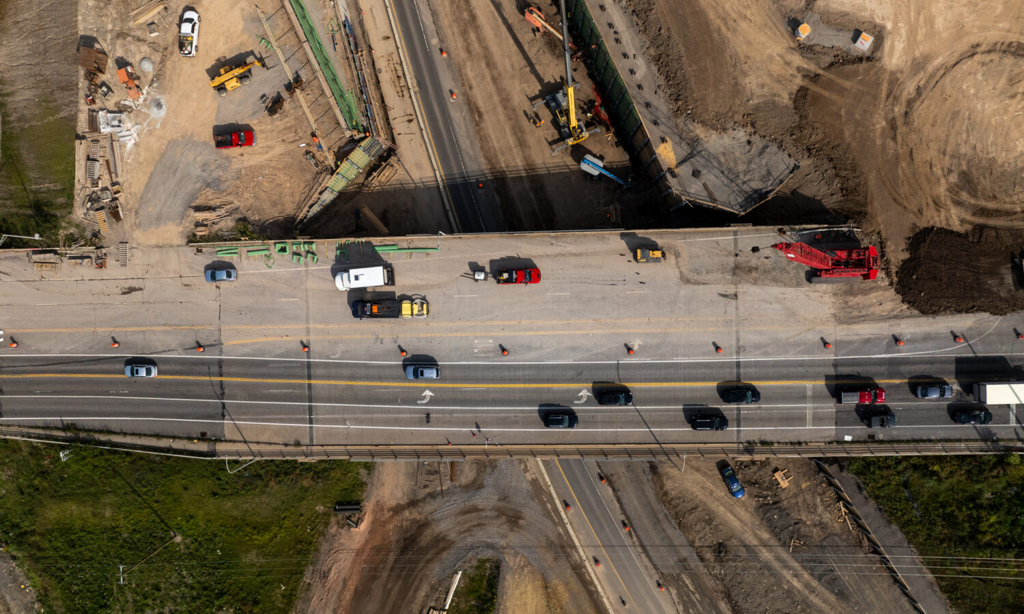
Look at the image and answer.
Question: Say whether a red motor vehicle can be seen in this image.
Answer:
Yes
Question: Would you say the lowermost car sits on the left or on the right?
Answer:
right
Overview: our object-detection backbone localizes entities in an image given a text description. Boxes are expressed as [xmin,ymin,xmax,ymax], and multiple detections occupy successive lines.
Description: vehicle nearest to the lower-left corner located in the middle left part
[126,363,160,379]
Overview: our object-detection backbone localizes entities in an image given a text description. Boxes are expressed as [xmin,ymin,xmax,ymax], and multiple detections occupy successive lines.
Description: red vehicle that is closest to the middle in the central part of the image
[497,268,542,286]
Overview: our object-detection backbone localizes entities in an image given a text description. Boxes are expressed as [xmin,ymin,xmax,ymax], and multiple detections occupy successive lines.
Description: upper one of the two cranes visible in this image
[529,0,603,155]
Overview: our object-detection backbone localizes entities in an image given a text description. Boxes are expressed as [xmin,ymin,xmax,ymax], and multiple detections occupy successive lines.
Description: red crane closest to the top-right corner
[726,241,883,283]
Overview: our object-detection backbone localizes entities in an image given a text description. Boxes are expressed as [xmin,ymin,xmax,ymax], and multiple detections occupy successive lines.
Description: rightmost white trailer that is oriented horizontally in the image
[968,382,1024,403]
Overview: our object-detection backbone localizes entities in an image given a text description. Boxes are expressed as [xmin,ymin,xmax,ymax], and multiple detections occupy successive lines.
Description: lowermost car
[720,464,742,498]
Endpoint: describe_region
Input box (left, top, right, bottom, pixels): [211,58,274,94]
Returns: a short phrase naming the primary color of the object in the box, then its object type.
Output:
yellow work vehicle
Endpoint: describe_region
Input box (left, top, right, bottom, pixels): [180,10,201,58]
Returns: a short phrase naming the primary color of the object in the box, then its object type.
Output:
white truck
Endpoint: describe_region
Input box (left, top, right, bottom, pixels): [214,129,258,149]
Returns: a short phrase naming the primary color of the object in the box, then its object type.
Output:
red vehicle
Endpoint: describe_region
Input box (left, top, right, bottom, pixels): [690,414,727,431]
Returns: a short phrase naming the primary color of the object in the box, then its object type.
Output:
black car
